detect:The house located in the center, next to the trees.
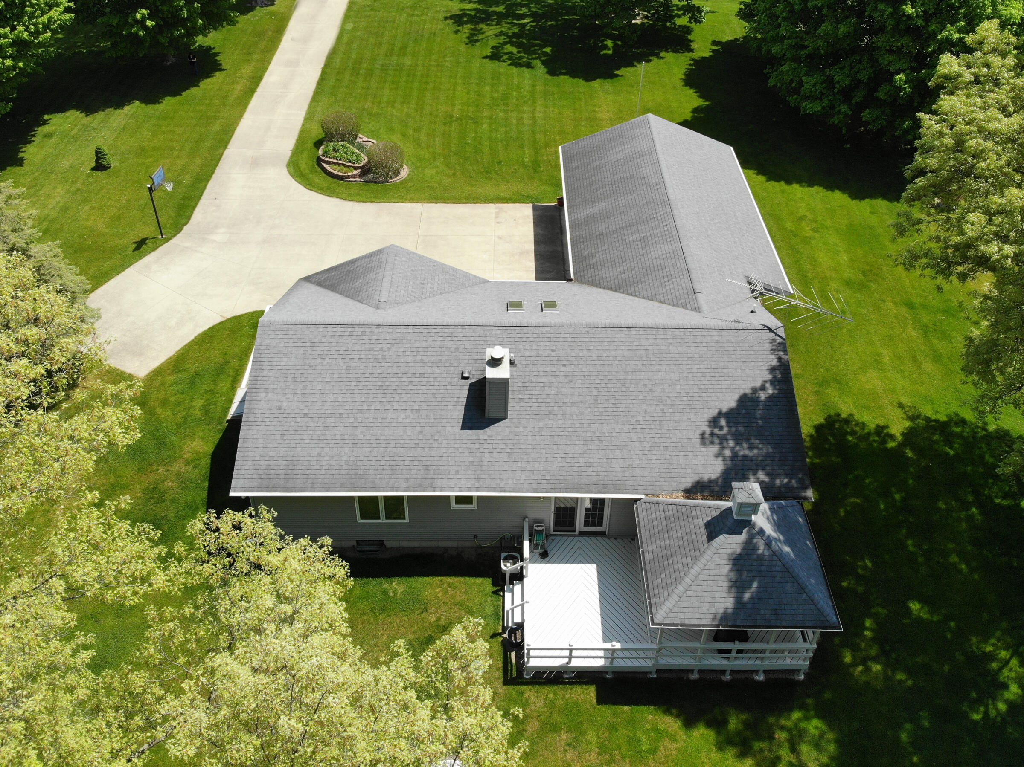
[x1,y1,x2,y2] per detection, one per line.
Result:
[229,114,815,557]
